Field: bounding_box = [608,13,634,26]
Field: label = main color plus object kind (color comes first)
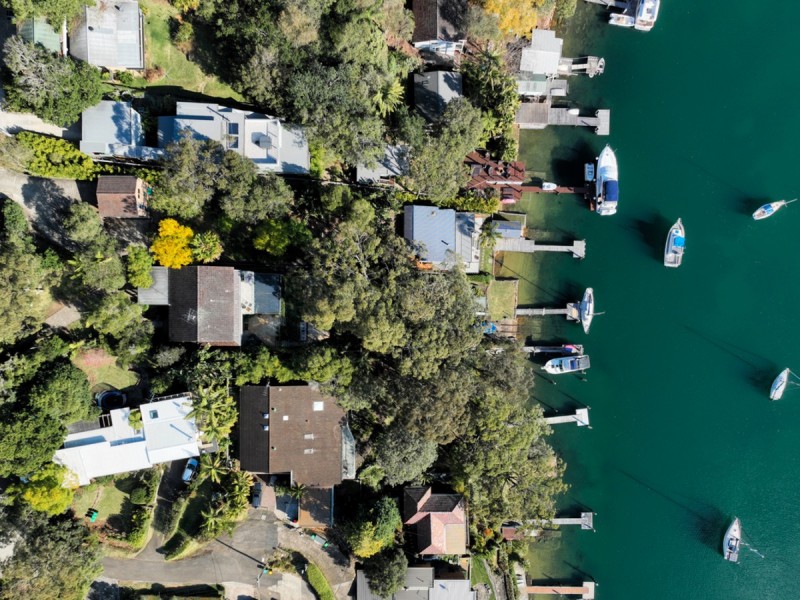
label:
white boat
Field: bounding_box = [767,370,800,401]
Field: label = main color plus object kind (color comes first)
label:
white boat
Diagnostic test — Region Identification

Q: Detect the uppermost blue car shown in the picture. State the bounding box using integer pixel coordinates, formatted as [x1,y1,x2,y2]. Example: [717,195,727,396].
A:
[183,458,199,482]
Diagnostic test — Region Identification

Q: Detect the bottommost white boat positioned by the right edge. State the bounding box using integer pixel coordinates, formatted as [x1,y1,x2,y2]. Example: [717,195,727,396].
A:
[722,518,762,562]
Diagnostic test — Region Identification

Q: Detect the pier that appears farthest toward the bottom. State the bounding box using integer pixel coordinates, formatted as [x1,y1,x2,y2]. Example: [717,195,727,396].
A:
[526,577,598,600]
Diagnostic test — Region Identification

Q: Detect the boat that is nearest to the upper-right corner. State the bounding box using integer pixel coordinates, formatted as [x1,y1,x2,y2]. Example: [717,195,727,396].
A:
[634,0,663,35]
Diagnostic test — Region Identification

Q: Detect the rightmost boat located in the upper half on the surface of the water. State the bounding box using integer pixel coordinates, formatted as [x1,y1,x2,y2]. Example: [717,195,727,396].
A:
[749,202,798,220]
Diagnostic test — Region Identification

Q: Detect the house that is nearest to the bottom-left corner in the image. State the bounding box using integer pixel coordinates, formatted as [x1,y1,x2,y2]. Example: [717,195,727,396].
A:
[53,389,209,487]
